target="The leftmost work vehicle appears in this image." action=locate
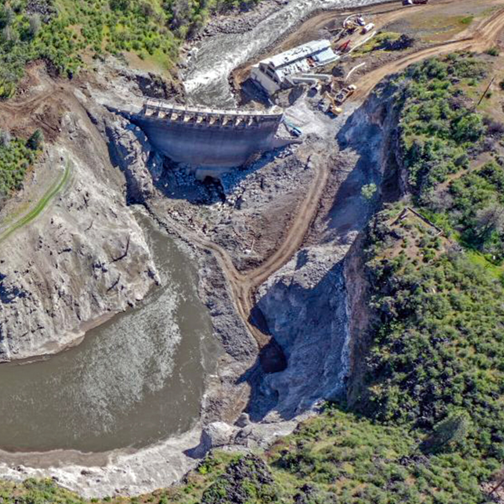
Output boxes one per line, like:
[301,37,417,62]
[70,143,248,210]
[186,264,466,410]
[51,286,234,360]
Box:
[284,112,307,134]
